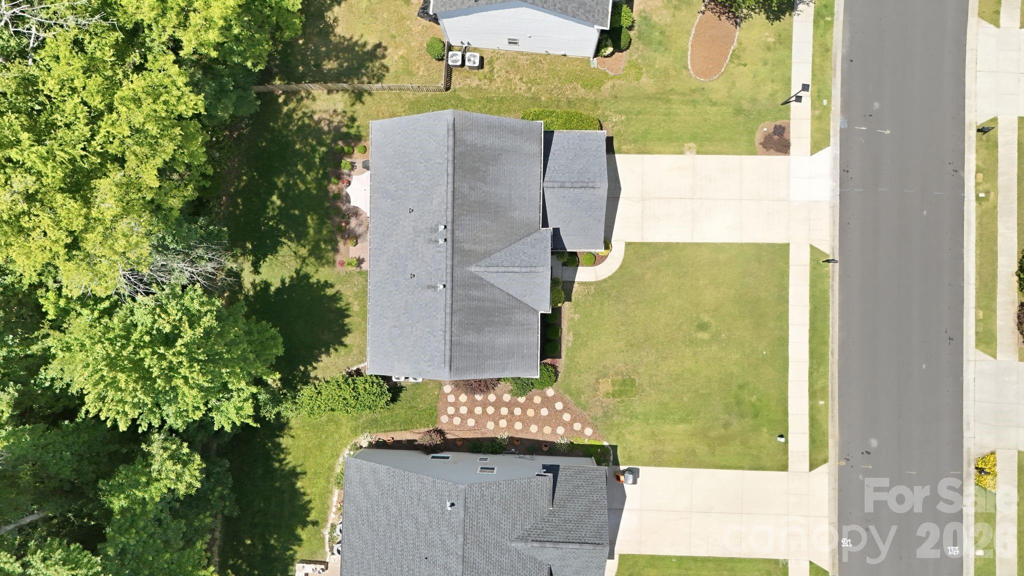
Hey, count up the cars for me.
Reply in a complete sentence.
Not a single car can be seen.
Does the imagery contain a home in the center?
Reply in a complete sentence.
Yes, you'll find a home in the center.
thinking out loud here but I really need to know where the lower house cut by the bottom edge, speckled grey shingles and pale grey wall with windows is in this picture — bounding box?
[341,448,610,576]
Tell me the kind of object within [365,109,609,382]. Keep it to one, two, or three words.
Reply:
house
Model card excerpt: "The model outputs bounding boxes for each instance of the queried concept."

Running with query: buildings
[365,109,609,382]
[428,0,615,57]
[341,448,610,576]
